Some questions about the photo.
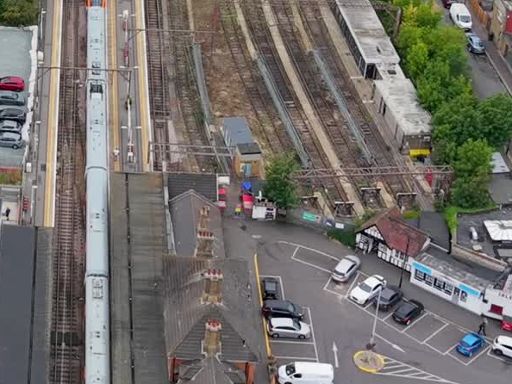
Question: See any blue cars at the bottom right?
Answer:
Yes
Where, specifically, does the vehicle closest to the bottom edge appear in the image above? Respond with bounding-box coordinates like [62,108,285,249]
[279,360,335,384]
